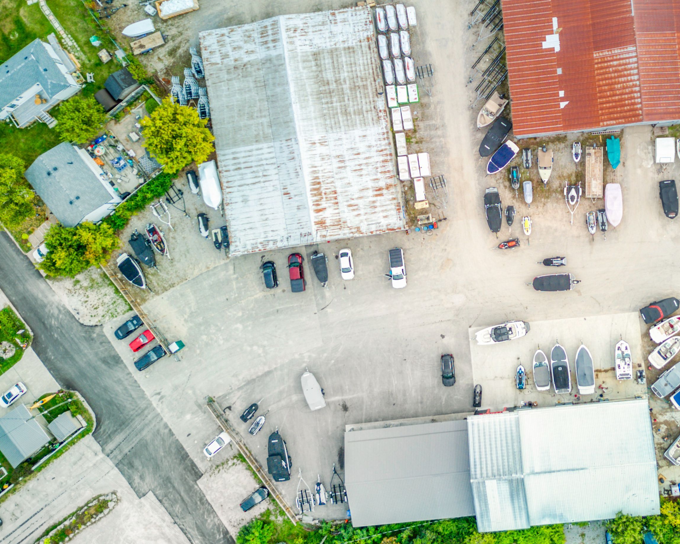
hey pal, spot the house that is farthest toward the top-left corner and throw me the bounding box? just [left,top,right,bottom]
[0,32,91,125]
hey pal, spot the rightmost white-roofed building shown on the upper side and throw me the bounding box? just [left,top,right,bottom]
[198,7,406,255]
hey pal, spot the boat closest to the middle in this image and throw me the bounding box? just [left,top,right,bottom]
[312,250,329,286]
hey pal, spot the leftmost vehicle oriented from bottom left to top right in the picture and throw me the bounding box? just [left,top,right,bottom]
[0,379,32,409]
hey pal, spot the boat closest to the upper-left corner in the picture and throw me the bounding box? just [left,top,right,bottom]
[121,19,156,35]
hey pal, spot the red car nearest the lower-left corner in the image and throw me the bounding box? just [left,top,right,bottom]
[126,327,159,352]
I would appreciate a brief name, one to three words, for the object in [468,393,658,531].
building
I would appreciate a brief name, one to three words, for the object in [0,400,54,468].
building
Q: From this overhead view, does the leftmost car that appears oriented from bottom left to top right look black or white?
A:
white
